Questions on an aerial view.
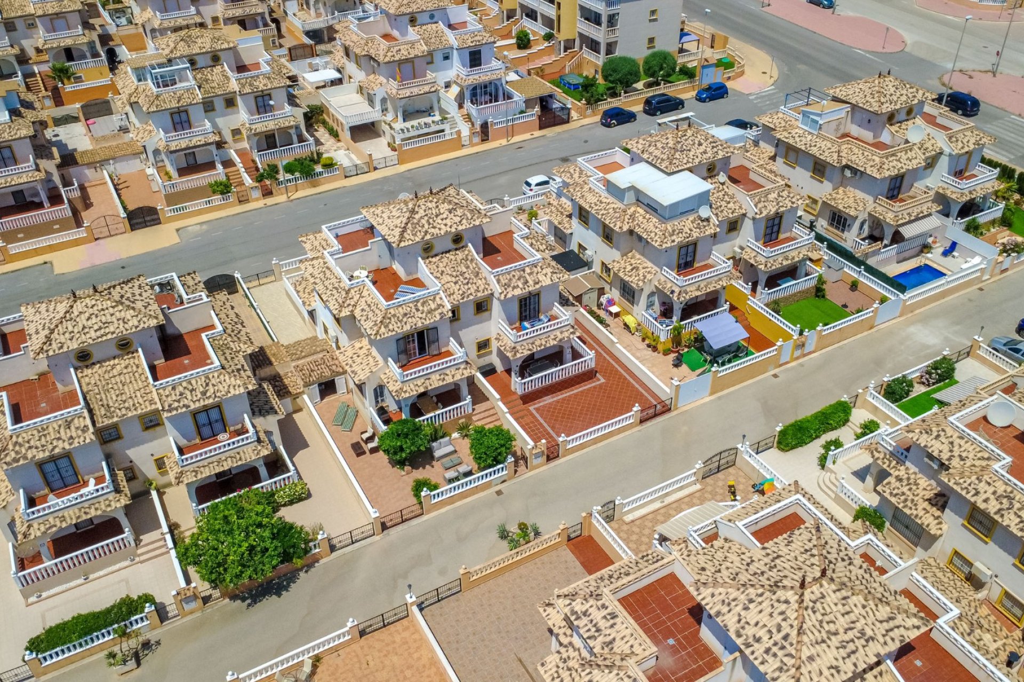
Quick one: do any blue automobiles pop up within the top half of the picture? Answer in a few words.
Yes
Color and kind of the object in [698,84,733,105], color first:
blue car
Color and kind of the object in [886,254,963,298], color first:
blue swimming pool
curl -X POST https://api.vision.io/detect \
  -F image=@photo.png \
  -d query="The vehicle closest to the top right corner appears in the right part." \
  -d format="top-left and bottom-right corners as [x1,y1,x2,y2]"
[937,88,988,112]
